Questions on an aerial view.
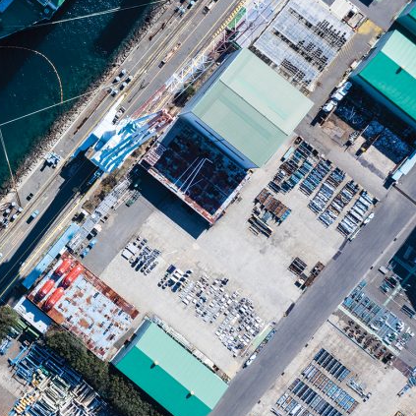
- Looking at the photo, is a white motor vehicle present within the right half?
Yes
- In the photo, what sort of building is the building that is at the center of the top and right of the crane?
warehouse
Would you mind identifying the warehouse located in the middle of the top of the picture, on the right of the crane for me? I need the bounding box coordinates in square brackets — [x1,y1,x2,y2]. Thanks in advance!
[186,48,313,169]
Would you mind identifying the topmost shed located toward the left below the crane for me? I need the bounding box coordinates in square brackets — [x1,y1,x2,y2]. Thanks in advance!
[88,194,123,224]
